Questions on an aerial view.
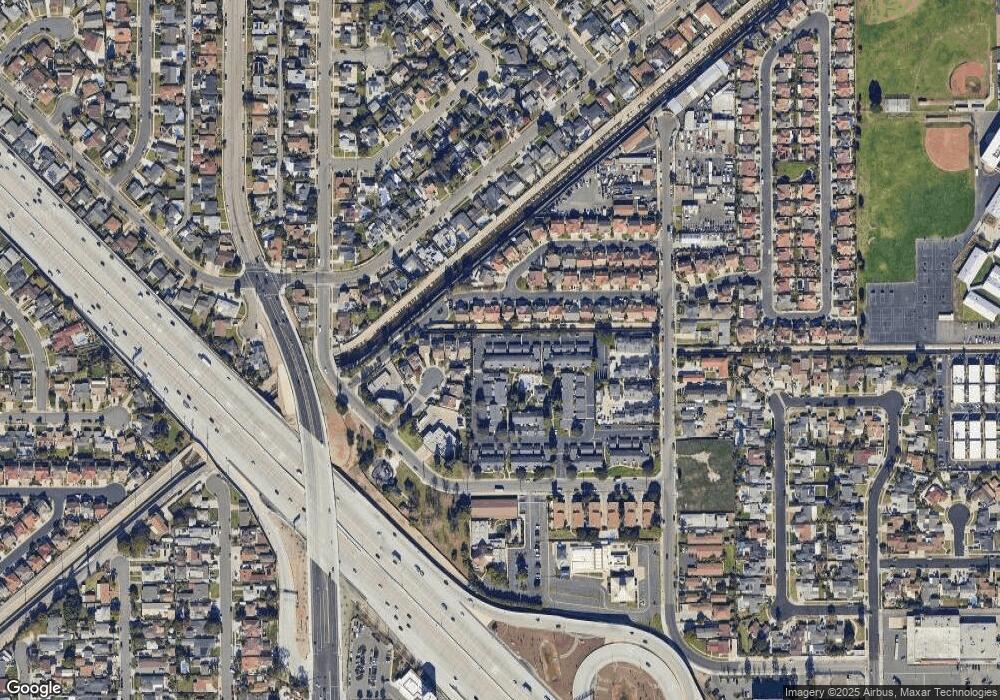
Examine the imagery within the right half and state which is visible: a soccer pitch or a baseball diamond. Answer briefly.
baseball diamond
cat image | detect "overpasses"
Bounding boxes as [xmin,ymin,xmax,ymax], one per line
[296,402,339,587]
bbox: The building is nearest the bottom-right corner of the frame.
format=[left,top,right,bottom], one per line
[961,625,997,664]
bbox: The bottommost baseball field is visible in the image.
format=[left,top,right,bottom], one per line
[862,112,976,282]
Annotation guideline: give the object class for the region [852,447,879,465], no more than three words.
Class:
house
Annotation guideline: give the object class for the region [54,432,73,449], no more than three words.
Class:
house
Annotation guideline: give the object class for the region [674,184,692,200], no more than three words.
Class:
building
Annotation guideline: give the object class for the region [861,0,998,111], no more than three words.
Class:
baseball field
